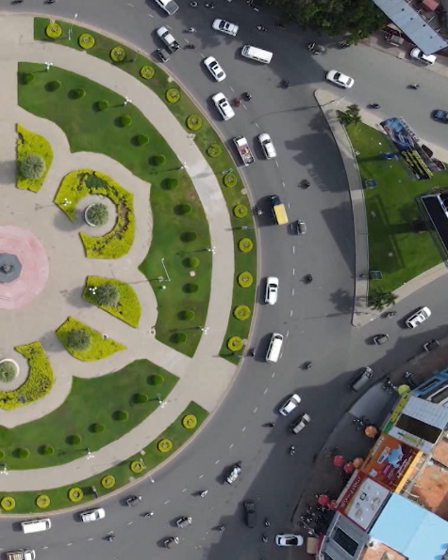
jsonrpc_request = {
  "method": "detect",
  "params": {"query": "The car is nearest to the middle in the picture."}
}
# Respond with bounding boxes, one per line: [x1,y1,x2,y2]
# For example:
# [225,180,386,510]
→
[265,277,279,304]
